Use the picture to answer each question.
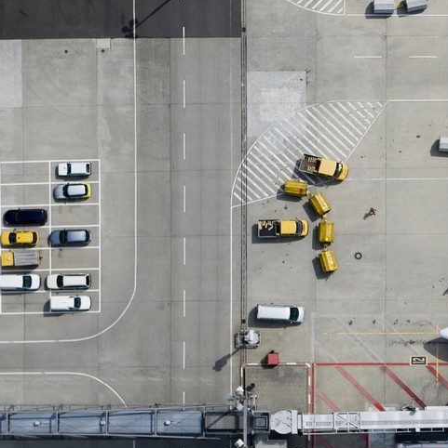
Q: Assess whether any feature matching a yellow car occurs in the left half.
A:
Yes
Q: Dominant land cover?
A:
paved ground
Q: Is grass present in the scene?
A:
No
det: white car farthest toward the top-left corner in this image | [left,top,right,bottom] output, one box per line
[58,160,92,177]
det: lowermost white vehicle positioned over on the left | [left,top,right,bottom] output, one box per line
[50,293,92,312]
